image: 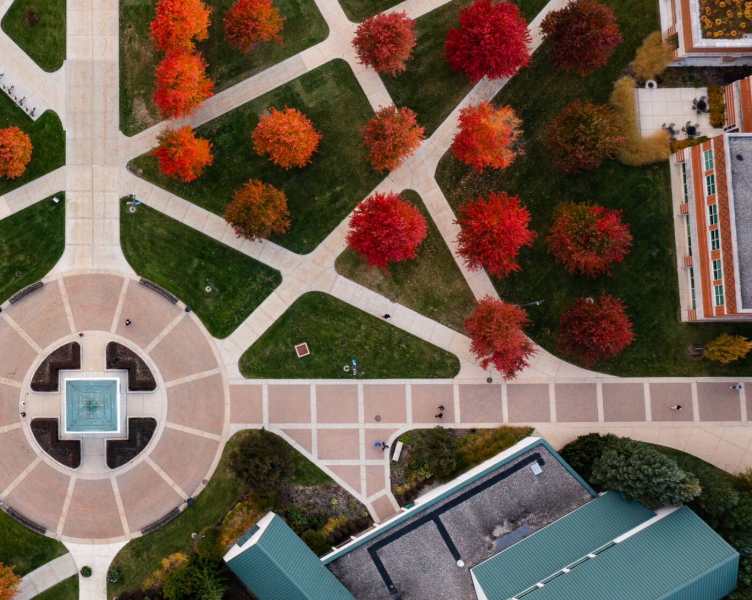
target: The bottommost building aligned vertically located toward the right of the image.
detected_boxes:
[670,129,752,321]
